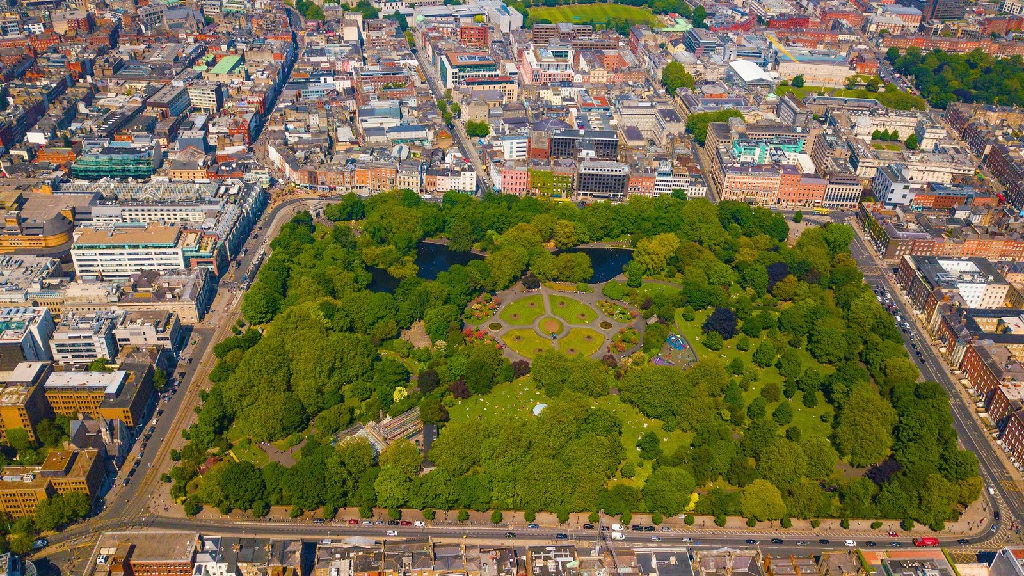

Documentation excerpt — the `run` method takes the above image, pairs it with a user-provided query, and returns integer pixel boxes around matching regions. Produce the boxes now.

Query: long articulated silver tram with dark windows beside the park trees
[240,248,266,291]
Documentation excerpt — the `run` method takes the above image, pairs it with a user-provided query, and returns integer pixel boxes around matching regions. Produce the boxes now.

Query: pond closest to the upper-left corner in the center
[371,241,487,292]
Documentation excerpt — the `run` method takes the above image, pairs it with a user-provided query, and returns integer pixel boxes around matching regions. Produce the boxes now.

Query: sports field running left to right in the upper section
[531,3,653,31]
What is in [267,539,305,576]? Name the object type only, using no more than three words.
house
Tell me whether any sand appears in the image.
No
